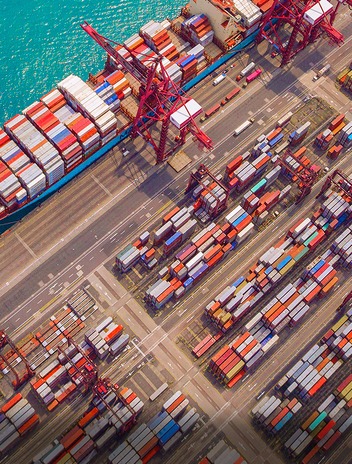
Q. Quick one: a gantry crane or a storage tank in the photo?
gantry crane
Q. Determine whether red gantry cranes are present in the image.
Yes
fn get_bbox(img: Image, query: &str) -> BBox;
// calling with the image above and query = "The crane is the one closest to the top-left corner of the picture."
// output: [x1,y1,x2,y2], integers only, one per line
[79,24,218,166]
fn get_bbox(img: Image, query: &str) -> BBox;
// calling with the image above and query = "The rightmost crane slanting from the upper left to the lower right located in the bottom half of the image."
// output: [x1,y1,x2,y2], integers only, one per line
[92,377,136,429]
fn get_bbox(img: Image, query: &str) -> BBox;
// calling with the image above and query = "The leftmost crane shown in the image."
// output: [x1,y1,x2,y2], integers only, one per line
[0,331,35,383]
